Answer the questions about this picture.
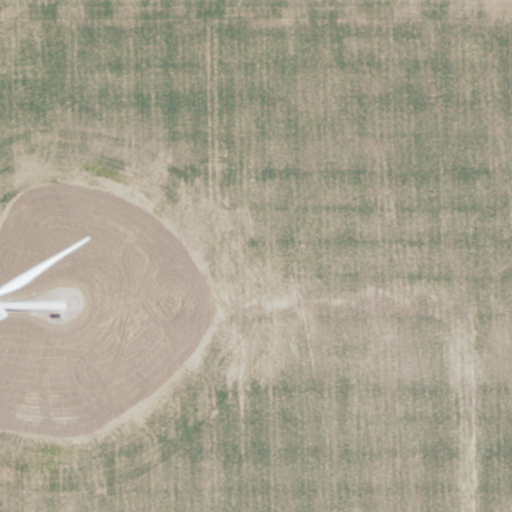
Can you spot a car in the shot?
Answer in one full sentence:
No, the picture doesn't show any car.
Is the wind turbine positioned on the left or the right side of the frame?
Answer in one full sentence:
The wind turbine appears in the left half of the scene.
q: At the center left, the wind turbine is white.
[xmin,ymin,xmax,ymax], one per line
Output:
[0,236,90,320]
